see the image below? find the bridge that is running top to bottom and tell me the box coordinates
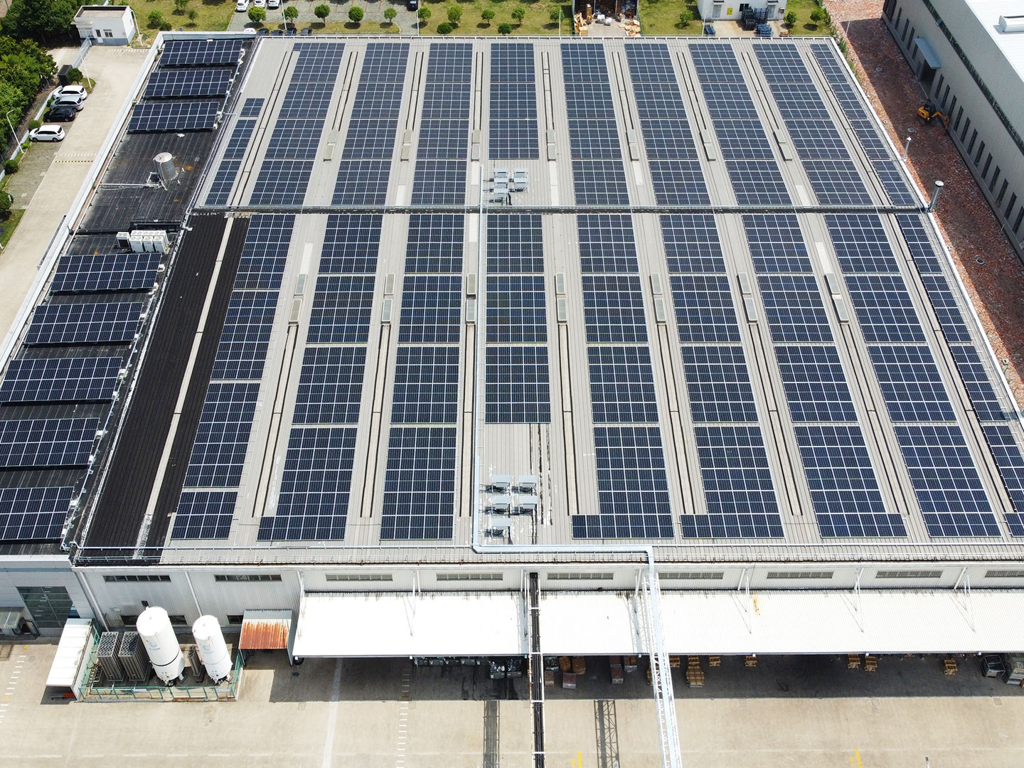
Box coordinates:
[642,577,685,768]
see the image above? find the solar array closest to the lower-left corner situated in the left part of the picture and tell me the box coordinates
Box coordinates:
[0,487,72,538]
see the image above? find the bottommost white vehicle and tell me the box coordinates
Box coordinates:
[32,124,69,140]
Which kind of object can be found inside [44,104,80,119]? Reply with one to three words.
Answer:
car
